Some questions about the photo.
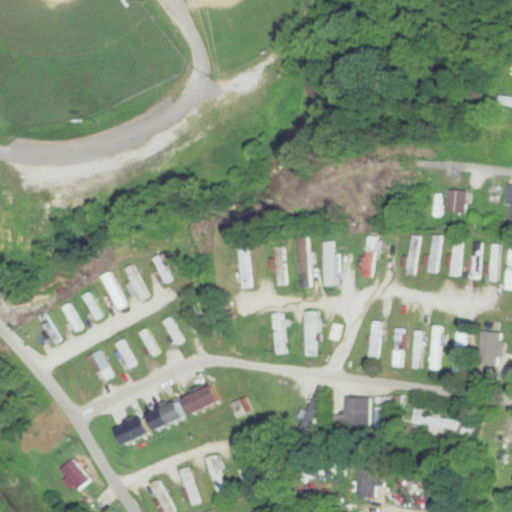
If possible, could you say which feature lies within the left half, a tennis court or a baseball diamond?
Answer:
baseball diamond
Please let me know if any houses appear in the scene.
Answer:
Yes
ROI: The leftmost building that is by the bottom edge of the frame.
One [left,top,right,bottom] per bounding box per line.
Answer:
[60,460,92,492]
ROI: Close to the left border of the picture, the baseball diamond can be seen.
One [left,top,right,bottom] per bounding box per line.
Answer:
[0,0,184,126]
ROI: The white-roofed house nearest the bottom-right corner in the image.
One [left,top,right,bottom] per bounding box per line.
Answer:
[412,409,476,438]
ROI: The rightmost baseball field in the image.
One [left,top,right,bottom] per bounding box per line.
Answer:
[186,0,294,76]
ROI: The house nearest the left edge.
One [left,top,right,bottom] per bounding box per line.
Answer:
[38,312,62,344]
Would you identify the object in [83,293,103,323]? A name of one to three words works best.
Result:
house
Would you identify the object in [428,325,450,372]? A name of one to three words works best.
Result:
house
